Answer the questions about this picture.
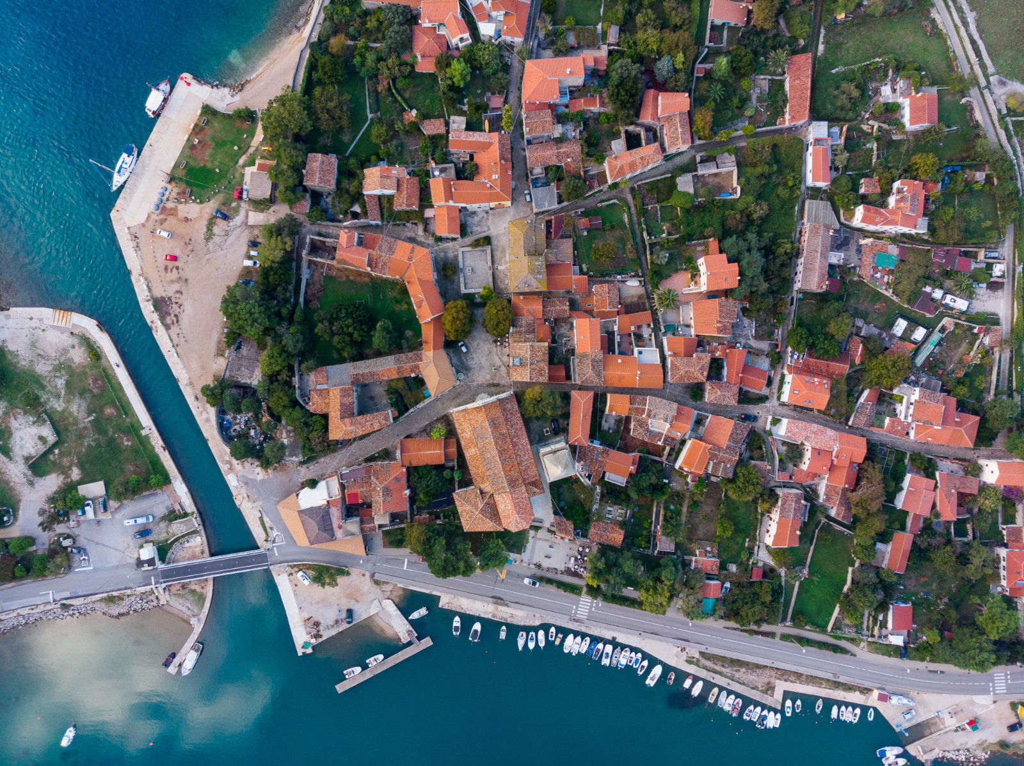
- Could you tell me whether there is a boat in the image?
Yes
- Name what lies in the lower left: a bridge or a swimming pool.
bridge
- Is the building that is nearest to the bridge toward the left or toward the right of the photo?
left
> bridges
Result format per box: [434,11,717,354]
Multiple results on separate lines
[157,549,272,585]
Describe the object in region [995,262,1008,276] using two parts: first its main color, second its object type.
white vehicle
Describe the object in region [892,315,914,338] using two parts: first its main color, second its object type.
white camper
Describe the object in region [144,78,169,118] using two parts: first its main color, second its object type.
white boat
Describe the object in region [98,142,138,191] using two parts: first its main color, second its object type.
white boat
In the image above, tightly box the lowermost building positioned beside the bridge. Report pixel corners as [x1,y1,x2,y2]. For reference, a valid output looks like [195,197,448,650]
[137,545,161,568]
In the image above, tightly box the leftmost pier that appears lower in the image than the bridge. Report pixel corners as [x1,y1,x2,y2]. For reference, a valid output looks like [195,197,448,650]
[167,578,214,675]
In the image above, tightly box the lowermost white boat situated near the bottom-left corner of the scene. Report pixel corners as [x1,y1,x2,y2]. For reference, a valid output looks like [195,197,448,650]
[62,723,78,746]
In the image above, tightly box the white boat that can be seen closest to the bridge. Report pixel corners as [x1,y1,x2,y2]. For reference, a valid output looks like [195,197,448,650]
[184,642,203,675]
